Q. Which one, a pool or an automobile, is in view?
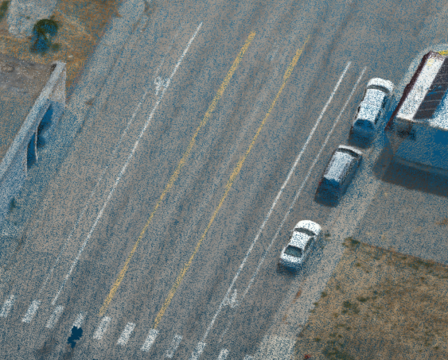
automobile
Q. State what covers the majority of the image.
paved ground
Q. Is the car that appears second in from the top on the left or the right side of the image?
right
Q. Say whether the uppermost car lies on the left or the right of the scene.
right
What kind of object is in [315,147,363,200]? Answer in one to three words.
car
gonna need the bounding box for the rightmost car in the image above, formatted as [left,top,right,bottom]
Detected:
[347,84,396,139]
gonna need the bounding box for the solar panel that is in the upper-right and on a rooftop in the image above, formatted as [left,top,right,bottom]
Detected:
[414,58,448,123]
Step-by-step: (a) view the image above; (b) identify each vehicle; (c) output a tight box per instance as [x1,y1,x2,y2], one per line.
[315,147,363,200]
[347,84,396,139]
[277,220,322,273]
